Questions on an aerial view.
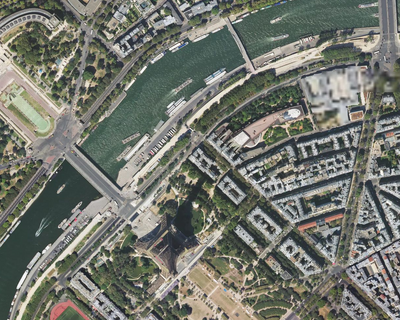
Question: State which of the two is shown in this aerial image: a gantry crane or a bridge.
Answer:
bridge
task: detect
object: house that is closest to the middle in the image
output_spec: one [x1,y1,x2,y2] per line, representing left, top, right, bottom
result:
[188,147,224,181]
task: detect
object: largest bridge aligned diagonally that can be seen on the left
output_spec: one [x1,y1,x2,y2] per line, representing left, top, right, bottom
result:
[63,147,128,204]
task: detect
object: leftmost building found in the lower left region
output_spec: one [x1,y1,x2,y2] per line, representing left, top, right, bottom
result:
[75,270,99,302]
